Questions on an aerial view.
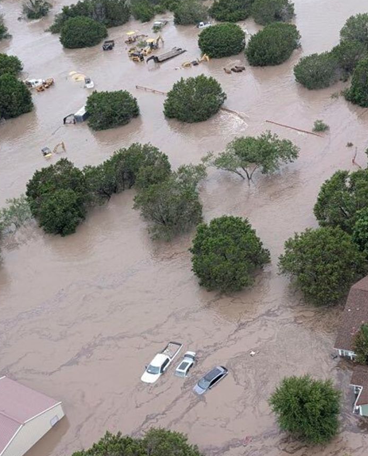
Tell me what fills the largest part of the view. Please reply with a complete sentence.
The scene is dominated by water.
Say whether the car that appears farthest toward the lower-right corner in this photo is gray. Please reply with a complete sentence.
Yes, the car that appears farthest toward the lower-right corner appears gray.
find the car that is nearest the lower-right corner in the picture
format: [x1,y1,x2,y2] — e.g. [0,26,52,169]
[195,366,228,396]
